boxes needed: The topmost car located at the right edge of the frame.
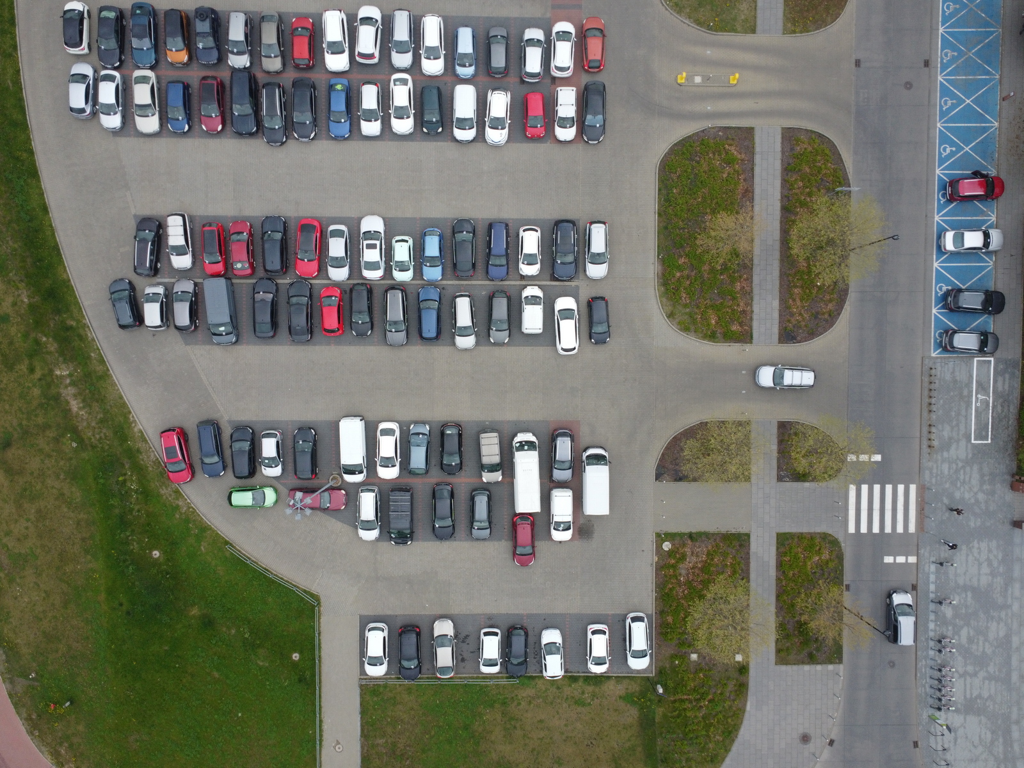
[948,167,1005,203]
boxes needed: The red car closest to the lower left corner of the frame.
[158,426,194,484]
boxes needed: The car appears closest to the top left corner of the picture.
[57,0,92,55]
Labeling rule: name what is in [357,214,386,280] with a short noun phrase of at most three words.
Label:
car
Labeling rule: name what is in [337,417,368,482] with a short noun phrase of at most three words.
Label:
van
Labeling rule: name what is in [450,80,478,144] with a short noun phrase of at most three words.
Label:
van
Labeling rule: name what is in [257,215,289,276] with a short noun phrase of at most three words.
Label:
car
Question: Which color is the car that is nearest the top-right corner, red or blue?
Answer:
red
